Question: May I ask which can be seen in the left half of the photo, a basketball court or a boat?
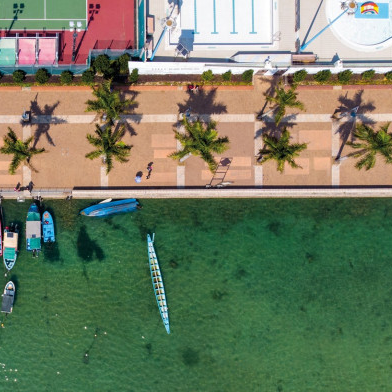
boat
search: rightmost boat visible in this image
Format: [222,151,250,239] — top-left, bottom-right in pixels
[148,233,168,333]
